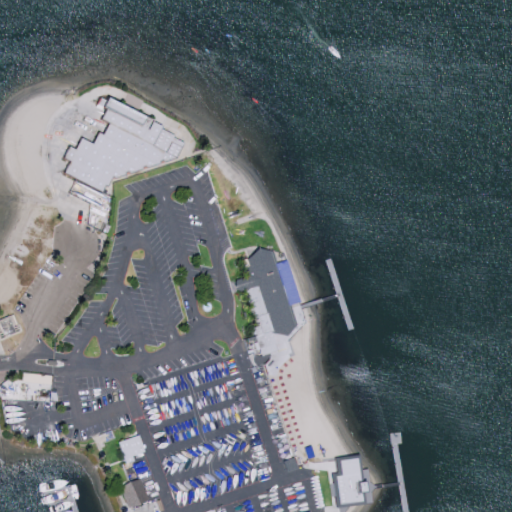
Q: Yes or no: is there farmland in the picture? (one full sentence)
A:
No, the scene doesn't show any farmland.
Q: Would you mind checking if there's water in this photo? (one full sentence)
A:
Yes, water can be seen from above here.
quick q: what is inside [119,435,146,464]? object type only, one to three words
house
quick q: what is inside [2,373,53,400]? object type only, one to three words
building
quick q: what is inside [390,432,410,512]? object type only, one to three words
pier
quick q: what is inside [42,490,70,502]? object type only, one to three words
boat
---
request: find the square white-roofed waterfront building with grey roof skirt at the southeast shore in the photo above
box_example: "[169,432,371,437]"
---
[332,453,370,508]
